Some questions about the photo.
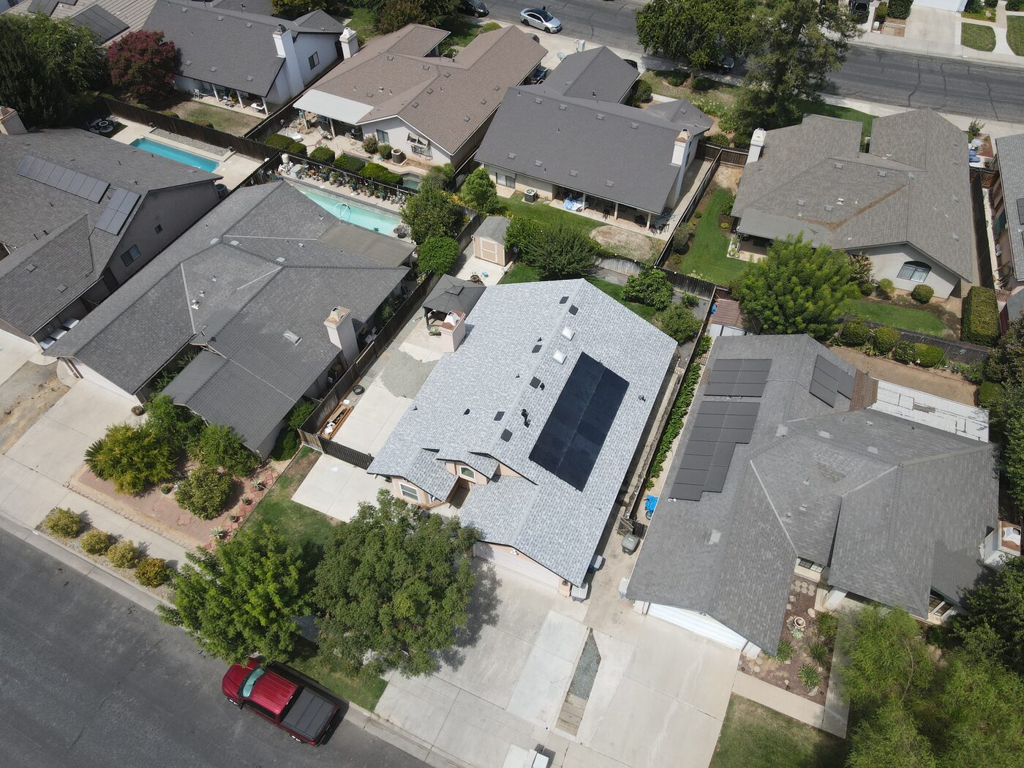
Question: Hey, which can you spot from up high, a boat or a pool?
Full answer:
Visible in the photo is a pool.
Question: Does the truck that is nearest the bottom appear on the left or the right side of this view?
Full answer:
The truck that is nearest the bottom appears in the left half of the scene.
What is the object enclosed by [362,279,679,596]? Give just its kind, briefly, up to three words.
house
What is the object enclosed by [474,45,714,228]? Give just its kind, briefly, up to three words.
house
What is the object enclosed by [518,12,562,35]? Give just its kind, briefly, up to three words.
car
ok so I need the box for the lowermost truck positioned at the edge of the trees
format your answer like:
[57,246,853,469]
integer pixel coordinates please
[219,658,346,752]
